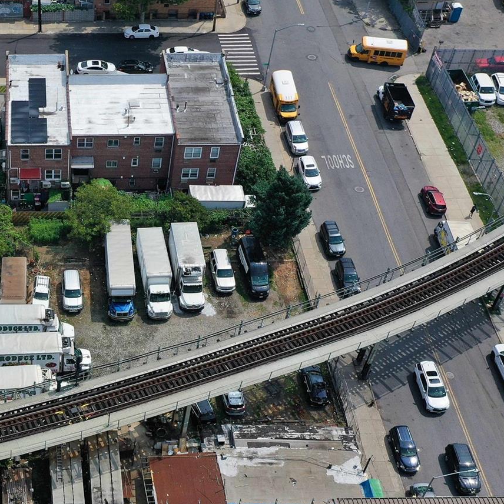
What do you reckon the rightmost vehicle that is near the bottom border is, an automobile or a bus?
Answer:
automobile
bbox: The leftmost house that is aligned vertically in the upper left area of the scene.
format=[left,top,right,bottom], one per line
[7,52,72,199]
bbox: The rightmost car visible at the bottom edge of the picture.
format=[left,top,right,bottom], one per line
[439,435,488,498]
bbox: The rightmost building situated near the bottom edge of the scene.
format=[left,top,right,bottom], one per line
[193,425,387,504]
